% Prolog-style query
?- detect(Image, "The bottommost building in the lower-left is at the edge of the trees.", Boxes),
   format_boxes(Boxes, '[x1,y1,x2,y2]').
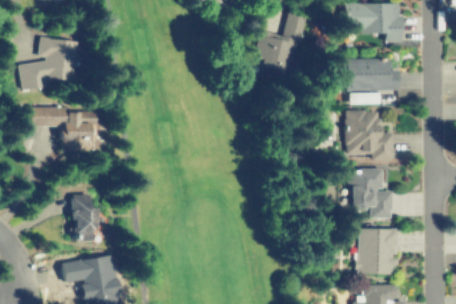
[61,256,125,304]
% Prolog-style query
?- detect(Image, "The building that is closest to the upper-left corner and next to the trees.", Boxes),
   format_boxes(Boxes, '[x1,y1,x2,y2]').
[19,37,75,92]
